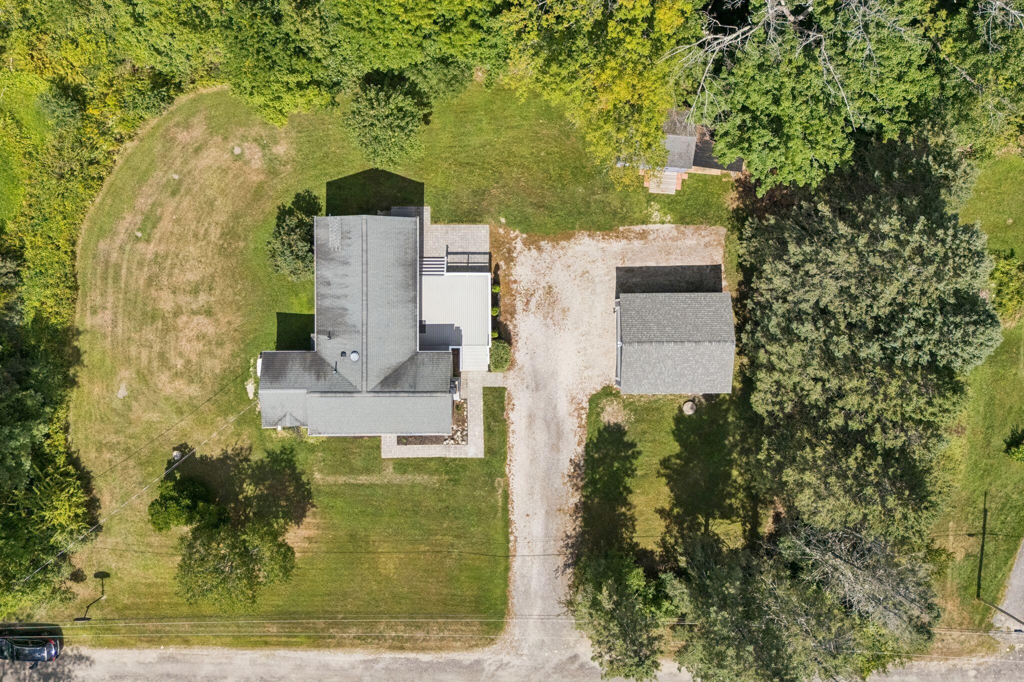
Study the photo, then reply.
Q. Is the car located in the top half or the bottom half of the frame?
bottom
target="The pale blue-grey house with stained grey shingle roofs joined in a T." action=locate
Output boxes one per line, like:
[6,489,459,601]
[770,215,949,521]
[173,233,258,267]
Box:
[257,214,460,437]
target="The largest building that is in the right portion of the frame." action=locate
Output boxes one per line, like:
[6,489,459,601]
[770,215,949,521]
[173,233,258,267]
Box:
[615,293,736,394]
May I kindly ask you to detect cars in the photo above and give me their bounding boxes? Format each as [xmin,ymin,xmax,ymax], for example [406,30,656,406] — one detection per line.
[0,631,58,666]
